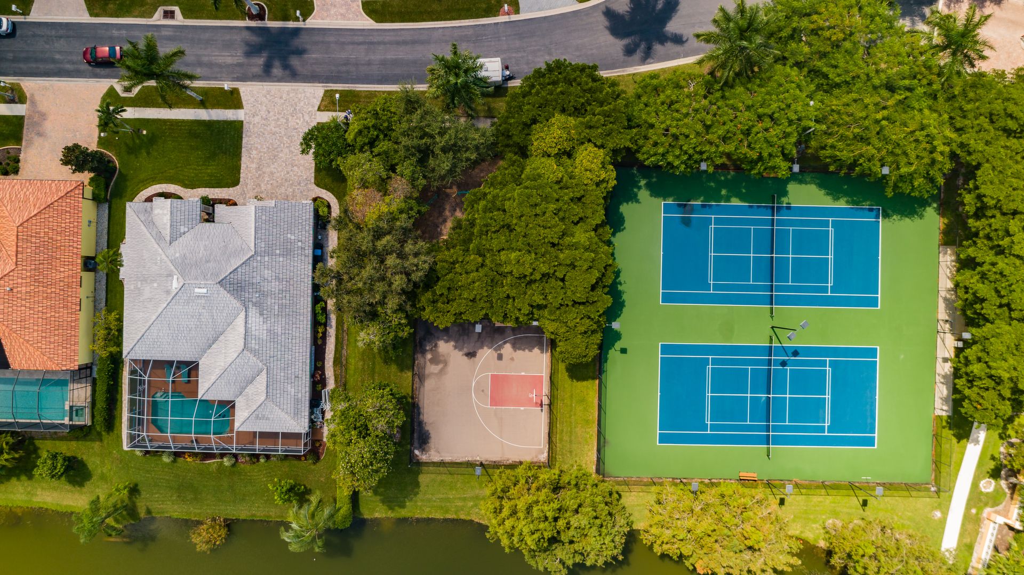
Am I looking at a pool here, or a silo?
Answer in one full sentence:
The image shows a pool.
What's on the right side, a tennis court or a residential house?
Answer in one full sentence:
You can see a tennis court on the right side.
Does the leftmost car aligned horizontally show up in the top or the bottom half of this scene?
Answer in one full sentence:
The leftmost car aligned horizontally sits in the top half of the picture.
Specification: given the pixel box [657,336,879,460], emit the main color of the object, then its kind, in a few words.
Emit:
blue tennis court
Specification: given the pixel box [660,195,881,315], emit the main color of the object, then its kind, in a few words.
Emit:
blue tennis court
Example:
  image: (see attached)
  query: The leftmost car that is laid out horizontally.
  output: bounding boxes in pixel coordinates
[80,42,122,63]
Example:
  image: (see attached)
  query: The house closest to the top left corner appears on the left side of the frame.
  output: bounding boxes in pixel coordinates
[0,178,98,369]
